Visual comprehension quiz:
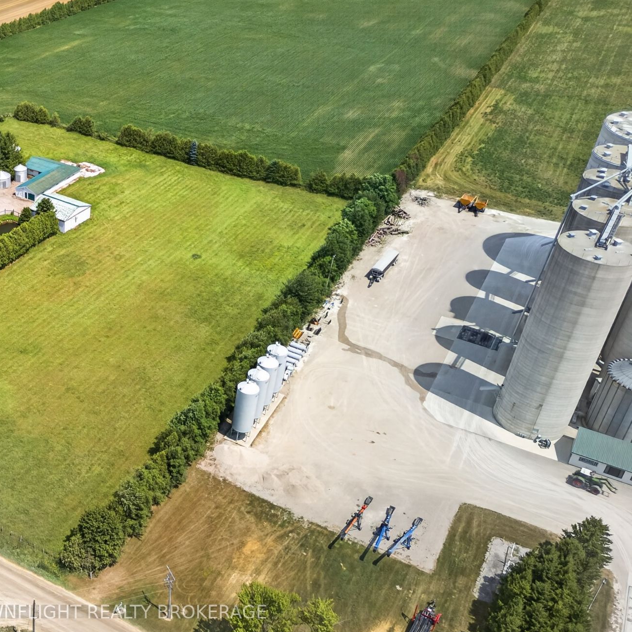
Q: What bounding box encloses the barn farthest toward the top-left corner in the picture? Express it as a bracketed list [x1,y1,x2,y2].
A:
[14,156,79,201]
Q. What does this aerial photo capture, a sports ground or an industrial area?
industrial area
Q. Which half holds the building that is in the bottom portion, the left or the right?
right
